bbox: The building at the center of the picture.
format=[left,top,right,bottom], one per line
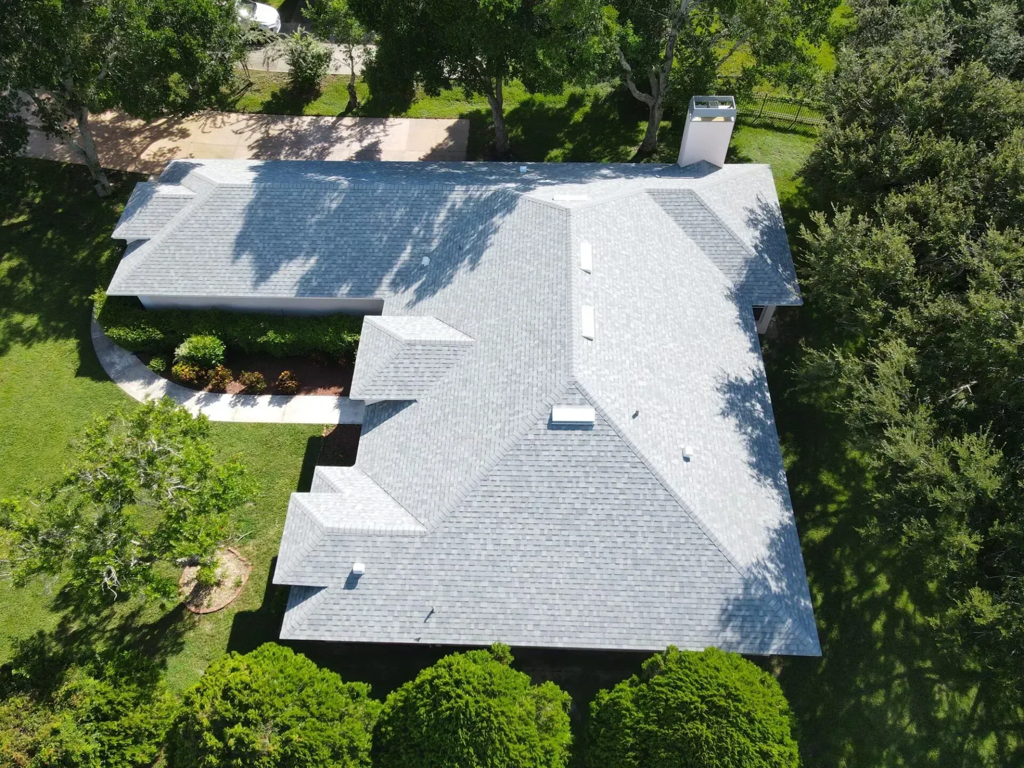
[105,99,822,665]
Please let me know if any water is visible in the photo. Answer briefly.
No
